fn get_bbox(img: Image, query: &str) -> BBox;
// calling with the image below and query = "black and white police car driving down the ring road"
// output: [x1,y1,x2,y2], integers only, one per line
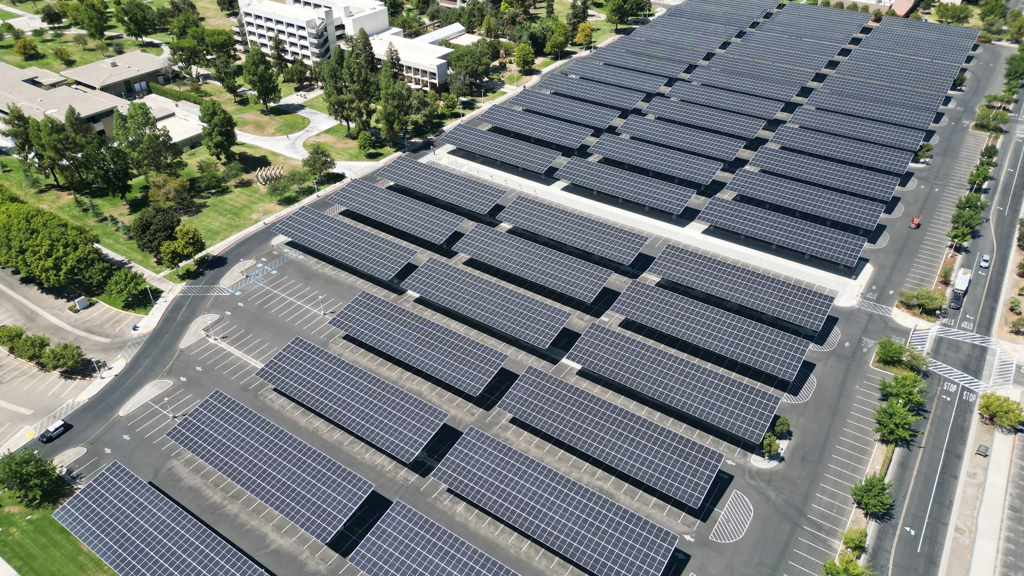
[38,415,73,441]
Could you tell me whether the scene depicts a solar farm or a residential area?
solar farm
